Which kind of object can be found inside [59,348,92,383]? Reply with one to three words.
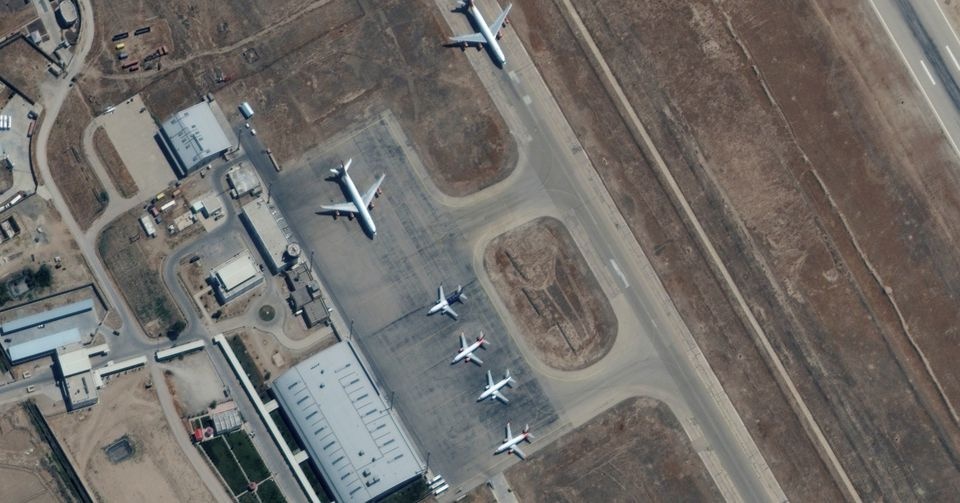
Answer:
building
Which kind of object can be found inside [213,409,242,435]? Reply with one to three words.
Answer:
greenhouse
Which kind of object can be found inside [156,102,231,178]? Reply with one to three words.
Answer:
hangar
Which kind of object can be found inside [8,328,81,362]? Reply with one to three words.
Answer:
shed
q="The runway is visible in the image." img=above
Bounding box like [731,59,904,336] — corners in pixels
[863,0,960,165]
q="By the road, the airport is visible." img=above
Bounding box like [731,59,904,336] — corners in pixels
[269,0,960,503]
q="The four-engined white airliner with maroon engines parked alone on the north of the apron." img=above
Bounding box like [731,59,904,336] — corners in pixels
[319,160,389,237]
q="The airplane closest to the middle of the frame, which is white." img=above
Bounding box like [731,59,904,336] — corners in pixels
[428,286,465,316]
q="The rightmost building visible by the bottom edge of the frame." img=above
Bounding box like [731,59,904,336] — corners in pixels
[273,342,428,503]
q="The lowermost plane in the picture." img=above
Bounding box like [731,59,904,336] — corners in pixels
[493,423,532,456]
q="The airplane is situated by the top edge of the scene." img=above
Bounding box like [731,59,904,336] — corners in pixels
[448,0,518,64]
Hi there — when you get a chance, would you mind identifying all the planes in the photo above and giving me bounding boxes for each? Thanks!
[448,0,518,64]
[452,333,488,362]
[319,160,389,237]
[493,423,532,456]
[428,286,465,316]
[476,372,516,402]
